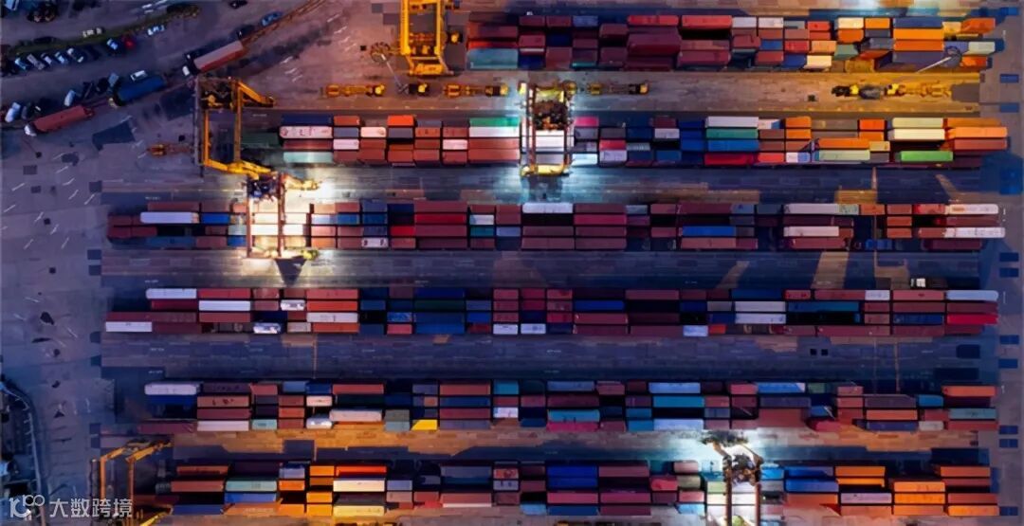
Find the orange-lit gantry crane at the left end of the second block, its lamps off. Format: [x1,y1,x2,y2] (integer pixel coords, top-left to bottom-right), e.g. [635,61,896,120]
[198,74,281,179]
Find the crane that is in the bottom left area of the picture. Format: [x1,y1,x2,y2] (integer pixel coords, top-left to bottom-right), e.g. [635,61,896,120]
[94,435,181,526]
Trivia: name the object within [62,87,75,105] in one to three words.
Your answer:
vehicle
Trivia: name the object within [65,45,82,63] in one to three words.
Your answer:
car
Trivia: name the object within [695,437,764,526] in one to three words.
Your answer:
container crane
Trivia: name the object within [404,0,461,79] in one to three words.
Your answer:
container crane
